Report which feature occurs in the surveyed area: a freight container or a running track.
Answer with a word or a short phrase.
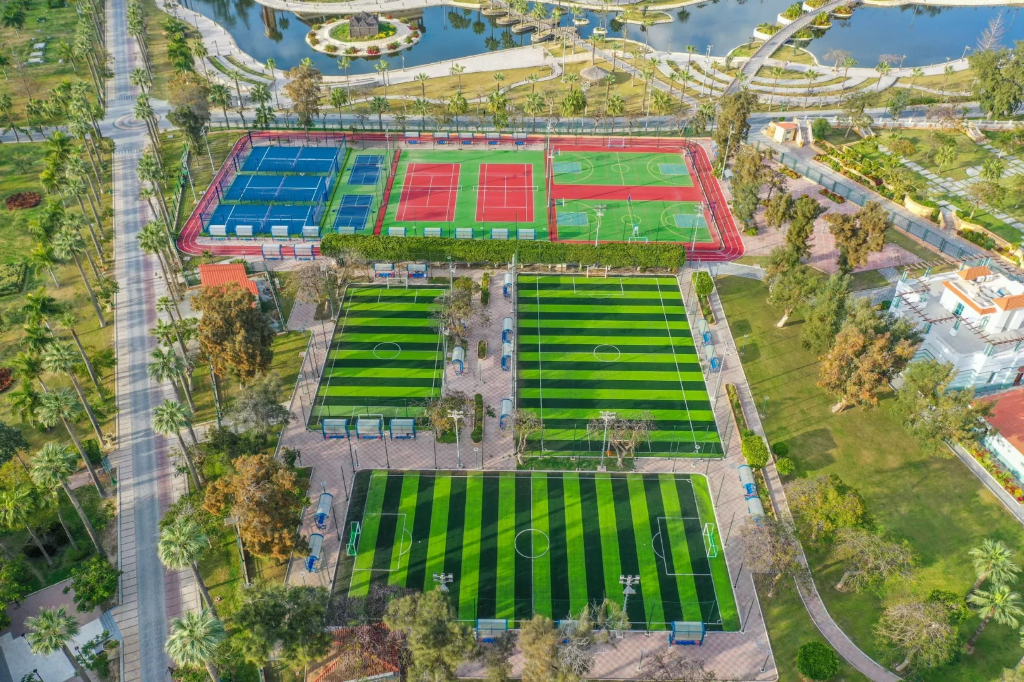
running track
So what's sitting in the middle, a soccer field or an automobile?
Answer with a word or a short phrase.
soccer field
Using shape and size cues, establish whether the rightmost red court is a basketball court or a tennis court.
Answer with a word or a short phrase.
tennis court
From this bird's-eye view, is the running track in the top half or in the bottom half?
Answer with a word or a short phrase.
top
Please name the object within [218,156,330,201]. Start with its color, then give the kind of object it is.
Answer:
blue sports court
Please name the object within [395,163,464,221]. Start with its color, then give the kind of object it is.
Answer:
red tennis court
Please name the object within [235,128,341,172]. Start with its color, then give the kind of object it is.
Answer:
blue sports court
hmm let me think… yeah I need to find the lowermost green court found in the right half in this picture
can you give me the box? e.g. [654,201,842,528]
[555,199,714,242]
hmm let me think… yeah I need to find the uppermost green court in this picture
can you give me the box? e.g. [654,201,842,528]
[551,151,694,186]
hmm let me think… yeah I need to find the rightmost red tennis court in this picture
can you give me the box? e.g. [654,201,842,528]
[471,163,540,222]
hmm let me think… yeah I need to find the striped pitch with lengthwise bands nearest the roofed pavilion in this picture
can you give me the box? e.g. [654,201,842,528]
[322,468,745,635]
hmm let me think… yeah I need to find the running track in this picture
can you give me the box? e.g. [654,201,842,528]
[173,131,745,262]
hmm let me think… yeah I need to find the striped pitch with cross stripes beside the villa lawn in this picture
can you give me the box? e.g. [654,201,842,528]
[515,272,726,459]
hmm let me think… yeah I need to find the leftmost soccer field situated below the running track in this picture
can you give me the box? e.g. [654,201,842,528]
[305,282,454,434]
